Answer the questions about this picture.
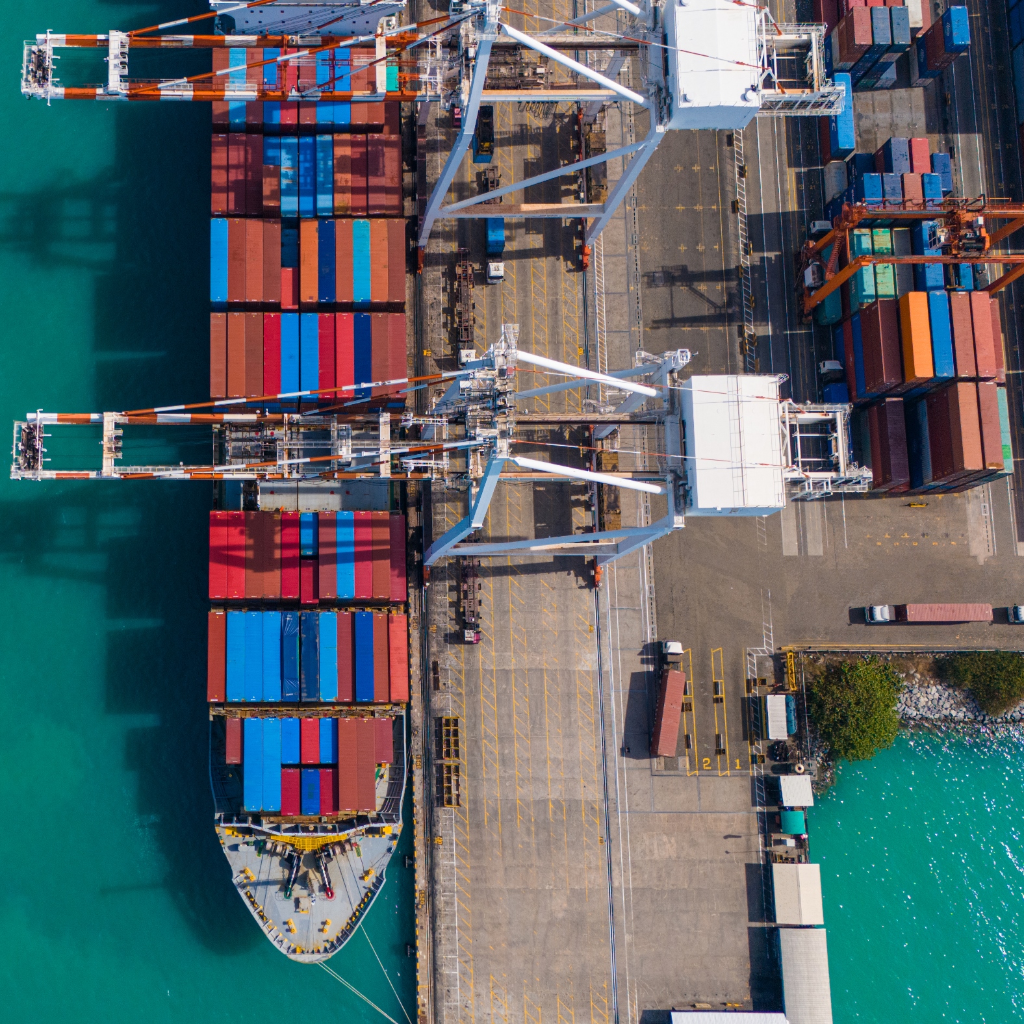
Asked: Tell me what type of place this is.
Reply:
port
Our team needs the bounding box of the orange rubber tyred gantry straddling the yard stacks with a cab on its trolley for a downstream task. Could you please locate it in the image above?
[800,187,1024,323]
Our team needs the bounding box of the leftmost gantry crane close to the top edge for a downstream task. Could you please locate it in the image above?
[22,0,853,269]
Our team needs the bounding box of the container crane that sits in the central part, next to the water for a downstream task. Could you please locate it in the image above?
[9,316,883,590]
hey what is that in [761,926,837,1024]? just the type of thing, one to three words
shed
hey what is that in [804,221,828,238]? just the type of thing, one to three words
vehicle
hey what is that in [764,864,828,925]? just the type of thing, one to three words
shed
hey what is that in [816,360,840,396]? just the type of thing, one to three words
truck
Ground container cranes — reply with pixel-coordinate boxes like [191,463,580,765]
[9,316,883,590]
[22,0,853,269]
[800,187,1024,323]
